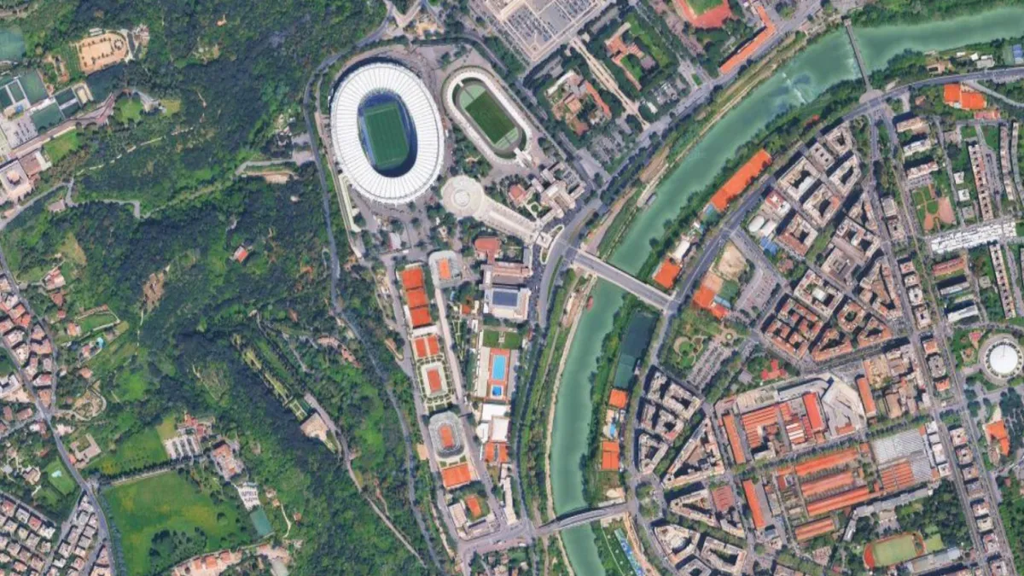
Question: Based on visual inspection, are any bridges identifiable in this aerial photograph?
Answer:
Yes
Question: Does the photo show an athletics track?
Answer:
Yes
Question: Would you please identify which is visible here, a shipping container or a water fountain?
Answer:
water fountain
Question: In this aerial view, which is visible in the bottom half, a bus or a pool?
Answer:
pool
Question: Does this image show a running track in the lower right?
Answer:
Yes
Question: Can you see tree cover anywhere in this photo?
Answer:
Yes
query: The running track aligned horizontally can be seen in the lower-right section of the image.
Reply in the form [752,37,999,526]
[864,532,925,568]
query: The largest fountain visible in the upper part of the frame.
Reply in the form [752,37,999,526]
[442,175,483,217]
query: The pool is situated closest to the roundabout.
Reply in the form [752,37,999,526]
[603,410,619,439]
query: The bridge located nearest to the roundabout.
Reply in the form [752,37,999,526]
[534,503,630,535]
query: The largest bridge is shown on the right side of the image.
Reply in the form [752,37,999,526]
[570,245,674,313]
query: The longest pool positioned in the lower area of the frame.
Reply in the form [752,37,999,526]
[485,348,510,401]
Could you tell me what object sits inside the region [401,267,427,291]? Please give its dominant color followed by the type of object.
red tennis court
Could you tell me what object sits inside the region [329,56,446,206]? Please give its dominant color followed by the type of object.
white stadium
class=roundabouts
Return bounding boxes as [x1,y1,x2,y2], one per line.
[630,469,674,530]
